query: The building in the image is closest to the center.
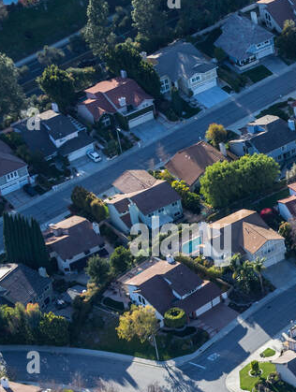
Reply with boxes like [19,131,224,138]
[99,179,188,238]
